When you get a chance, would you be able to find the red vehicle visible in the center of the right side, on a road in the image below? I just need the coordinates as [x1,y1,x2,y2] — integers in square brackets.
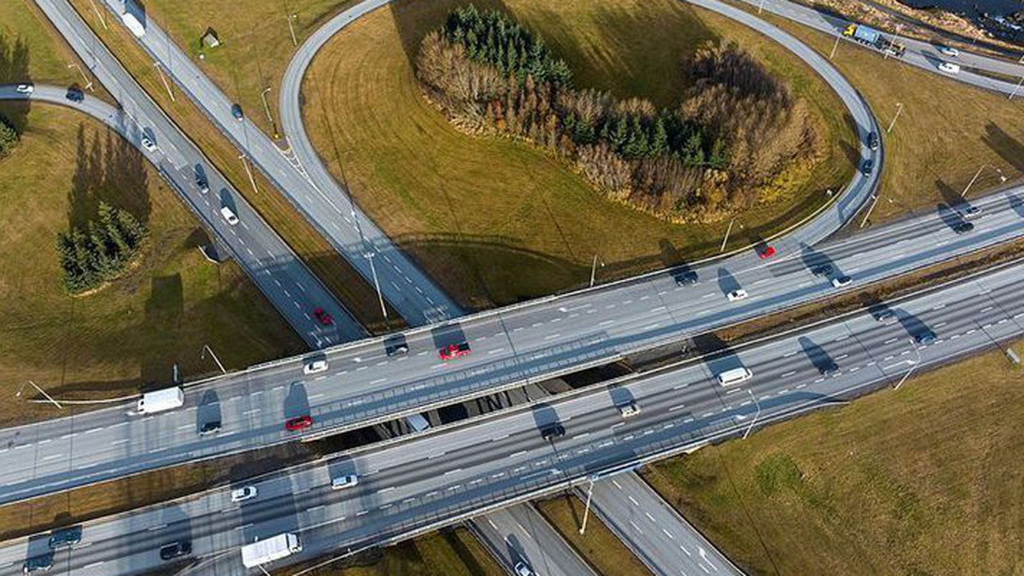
[756,246,776,260]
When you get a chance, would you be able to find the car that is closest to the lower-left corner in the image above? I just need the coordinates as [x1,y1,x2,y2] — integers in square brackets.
[22,553,56,573]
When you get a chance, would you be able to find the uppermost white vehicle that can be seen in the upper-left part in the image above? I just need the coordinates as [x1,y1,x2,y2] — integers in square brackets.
[122,13,145,36]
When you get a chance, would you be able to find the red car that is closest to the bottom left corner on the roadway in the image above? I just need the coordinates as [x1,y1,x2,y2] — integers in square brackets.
[285,415,313,431]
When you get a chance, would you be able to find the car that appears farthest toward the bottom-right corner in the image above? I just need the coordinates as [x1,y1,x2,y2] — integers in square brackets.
[913,331,936,344]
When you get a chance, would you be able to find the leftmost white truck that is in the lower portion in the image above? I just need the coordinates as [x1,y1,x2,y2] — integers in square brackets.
[136,386,187,416]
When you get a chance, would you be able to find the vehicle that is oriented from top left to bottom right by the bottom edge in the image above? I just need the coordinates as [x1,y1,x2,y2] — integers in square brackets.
[509,553,534,576]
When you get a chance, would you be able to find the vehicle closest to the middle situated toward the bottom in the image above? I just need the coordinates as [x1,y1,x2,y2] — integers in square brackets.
[441,343,469,359]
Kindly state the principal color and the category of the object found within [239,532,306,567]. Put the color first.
white truck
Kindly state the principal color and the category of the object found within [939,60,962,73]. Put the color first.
white vehicle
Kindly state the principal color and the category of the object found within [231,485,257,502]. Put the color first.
white car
